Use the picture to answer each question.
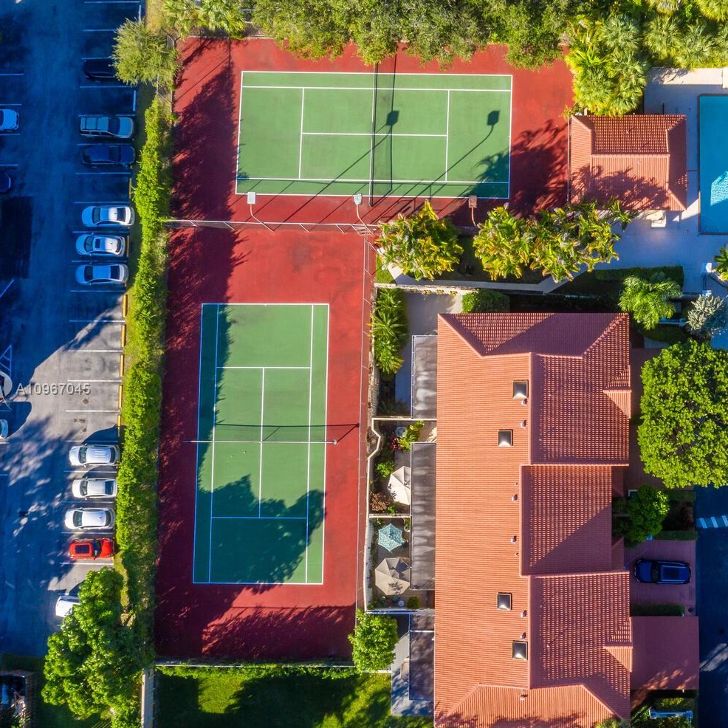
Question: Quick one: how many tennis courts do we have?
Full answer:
In total, there are 2 tennis courts in the scene.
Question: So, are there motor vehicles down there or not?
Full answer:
Yes, the image includes a motor vehicle.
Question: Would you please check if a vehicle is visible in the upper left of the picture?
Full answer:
Yes, a vehicle can be seen in the upper left of the picture.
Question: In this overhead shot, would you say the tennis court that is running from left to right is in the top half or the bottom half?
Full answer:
You can find the tennis court that is running from left to right in the top half.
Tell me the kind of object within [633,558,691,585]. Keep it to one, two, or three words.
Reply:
car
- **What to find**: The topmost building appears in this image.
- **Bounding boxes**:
[569,114,689,215]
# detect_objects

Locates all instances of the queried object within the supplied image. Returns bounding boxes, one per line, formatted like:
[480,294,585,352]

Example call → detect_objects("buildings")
[433,313,633,728]
[569,114,689,215]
